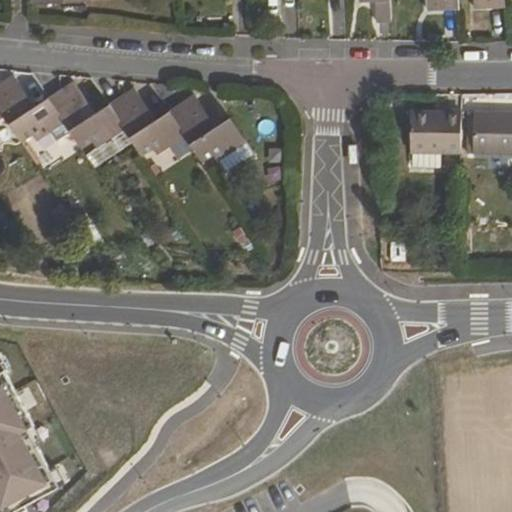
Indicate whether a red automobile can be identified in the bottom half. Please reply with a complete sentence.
No, there's no red automobile to be seen in the bottom half.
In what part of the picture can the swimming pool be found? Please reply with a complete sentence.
The swimming pool appears toward the top of the photo.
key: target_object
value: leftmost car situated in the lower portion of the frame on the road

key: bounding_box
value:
[204,323,224,336]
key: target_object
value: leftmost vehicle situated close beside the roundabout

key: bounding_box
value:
[276,342,289,367]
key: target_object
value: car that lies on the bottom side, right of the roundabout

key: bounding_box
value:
[436,330,460,342]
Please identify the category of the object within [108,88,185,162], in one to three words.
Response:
house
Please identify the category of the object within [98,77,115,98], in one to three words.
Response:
car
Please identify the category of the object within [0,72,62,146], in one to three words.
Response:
house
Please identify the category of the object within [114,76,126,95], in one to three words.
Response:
vehicle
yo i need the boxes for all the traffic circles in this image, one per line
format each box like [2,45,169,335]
[292,306,372,387]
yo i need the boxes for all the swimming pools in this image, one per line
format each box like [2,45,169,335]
[256,118,276,140]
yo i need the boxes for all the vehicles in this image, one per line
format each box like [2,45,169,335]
[147,42,168,52]
[98,77,115,98]
[492,12,504,35]
[268,484,284,508]
[436,330,460,342]
[204,323,224,336]
[350,48,370,58]
[244,496,260,512]
[315,291,338,302]
[196,46,216,56]
[446,10,456,30]
[170,43,192,54]
[231,500,244,512]
[464,50,488,62]
[93,38,114,48]
[118,40,142,50]
[276,342,289,367]
[278,480,294,500]
[396,46,418,56]
[286,0,294,8]
[114,76,126,95]
[64,4,85,14]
